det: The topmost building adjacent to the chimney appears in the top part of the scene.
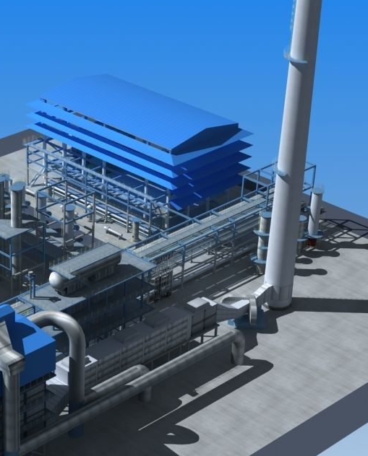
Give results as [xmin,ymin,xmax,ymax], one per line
[26,73,252,230]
